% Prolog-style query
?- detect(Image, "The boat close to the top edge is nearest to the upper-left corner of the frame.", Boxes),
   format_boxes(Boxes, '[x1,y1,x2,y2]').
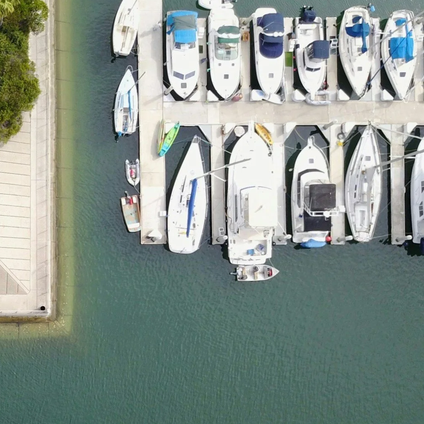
[111,0,145,57]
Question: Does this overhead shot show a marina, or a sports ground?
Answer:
marina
